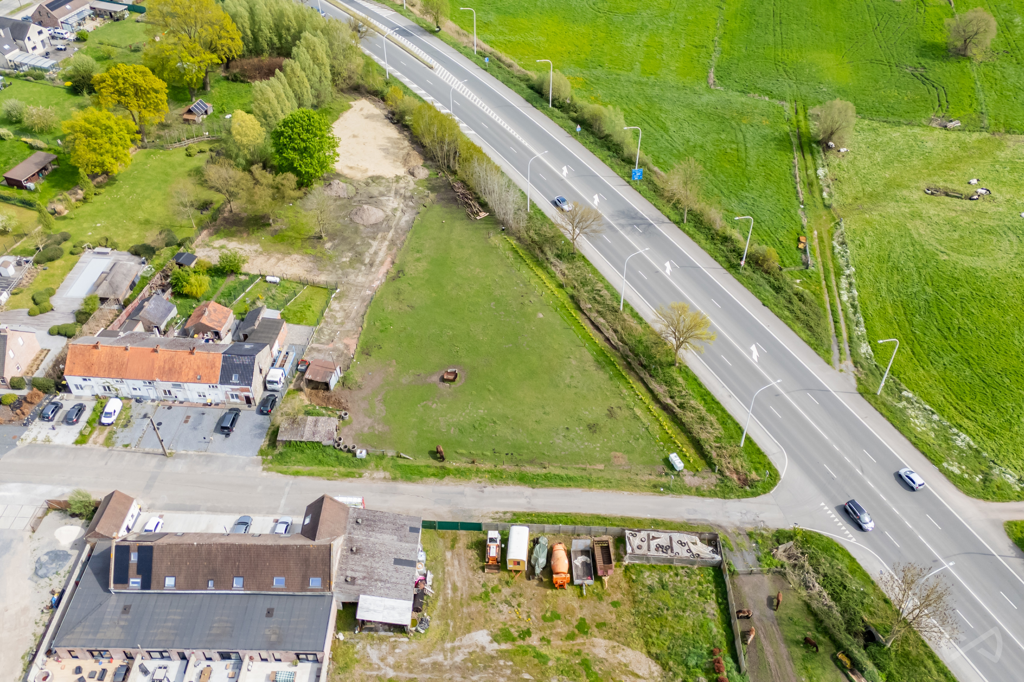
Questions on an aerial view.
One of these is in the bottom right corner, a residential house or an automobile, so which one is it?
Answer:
automobile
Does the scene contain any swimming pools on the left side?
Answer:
Yes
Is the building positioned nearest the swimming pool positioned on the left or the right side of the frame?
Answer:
left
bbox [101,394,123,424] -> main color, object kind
white car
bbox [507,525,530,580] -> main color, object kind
white camper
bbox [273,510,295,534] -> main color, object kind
white car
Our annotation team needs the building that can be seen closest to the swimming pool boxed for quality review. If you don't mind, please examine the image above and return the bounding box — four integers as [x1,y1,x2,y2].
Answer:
[95,261,138,308]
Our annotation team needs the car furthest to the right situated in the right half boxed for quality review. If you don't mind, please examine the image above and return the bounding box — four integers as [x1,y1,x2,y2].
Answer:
[897,466,927,491]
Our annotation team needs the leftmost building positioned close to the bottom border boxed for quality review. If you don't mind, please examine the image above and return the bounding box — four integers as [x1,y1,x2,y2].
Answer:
[50,528,342,663]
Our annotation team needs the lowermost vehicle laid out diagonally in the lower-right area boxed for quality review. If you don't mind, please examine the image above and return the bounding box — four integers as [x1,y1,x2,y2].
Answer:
[842,497,875,531]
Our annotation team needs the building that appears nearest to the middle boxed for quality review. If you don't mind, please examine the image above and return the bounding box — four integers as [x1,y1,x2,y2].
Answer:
[304,359,339,390]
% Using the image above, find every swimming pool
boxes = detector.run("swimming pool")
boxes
[62,256,114,299]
